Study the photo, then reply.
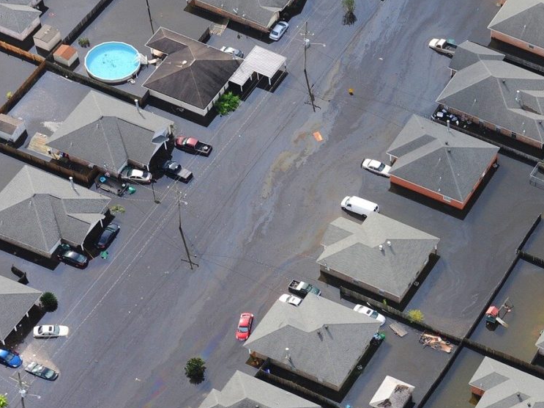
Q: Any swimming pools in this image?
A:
Yes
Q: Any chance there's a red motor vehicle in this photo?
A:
Yes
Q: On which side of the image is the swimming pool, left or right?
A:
left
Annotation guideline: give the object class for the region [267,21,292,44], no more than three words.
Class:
car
